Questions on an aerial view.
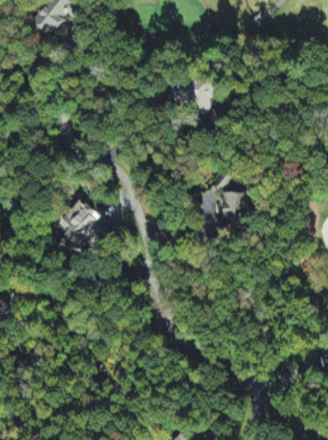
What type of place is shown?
forest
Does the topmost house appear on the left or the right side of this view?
left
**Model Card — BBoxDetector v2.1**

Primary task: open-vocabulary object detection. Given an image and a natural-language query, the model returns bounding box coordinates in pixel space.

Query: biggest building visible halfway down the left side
[56,199,102,240]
